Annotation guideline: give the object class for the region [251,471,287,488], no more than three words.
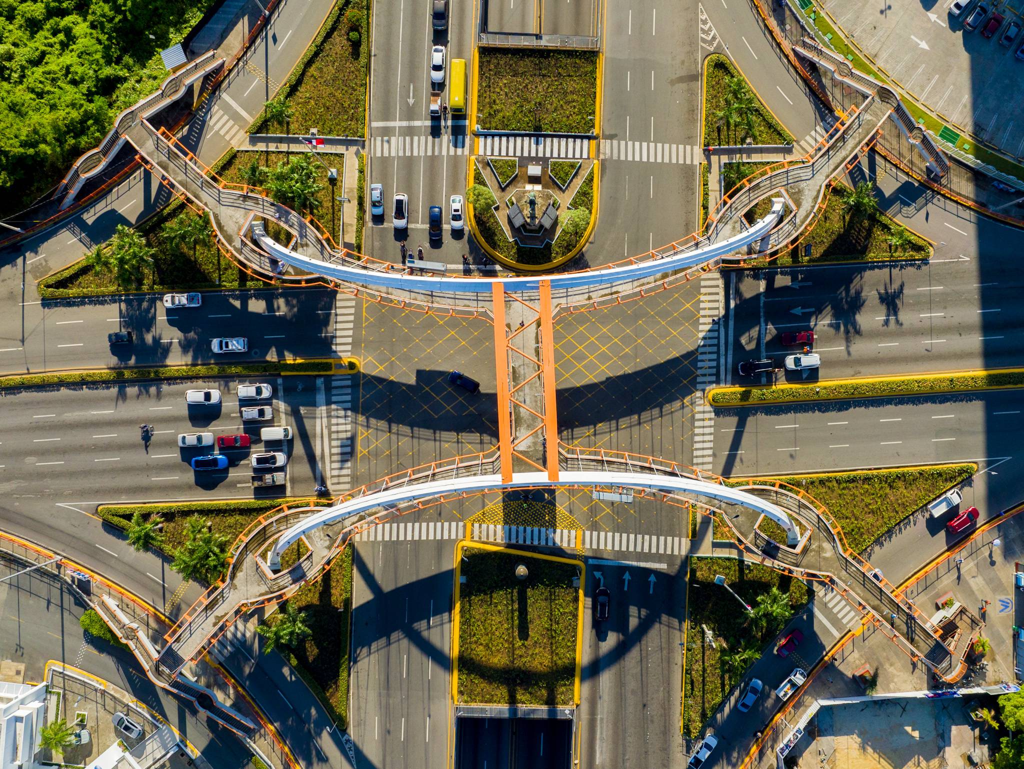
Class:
vehicle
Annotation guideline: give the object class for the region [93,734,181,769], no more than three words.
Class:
building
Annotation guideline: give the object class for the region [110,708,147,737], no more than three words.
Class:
car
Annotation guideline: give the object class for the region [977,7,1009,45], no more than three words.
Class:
truck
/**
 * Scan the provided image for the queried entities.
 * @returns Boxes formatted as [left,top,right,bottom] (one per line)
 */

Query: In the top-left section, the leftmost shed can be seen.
[160,44,192,74]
